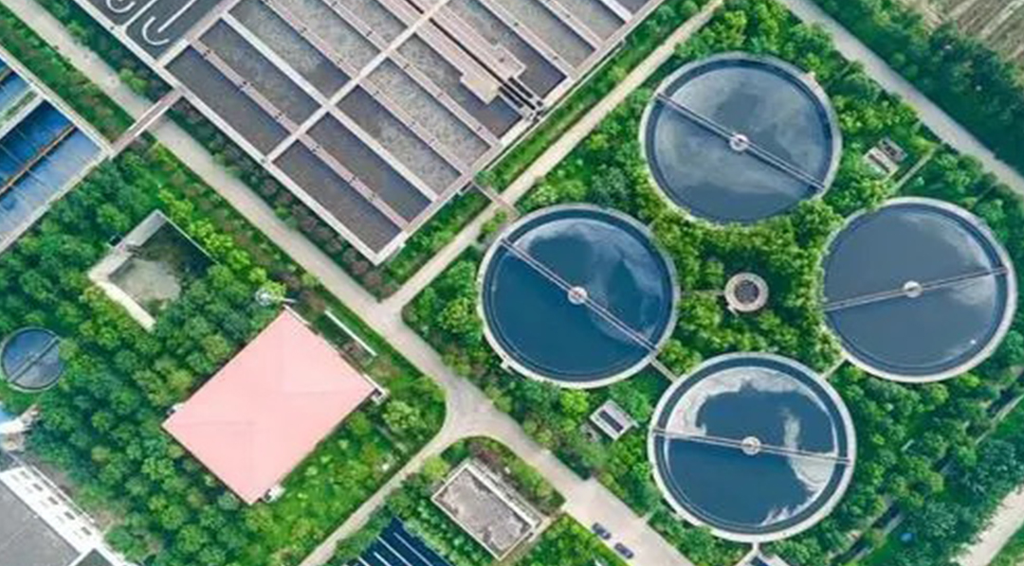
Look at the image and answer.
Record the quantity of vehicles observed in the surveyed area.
two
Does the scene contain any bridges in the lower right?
Yes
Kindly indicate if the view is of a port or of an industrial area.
industrial area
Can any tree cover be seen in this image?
Yes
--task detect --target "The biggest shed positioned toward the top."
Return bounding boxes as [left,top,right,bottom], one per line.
[862,145,901,183]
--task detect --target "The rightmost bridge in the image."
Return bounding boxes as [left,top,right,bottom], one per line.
[820,262,1013,310]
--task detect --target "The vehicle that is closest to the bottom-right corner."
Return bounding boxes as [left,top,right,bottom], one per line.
[612,540,634,561]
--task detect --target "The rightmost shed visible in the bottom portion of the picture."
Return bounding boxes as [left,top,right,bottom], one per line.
[589,399,639,445]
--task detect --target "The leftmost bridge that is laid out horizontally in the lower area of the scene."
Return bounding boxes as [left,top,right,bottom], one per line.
[648,422,854,466]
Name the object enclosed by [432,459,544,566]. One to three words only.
building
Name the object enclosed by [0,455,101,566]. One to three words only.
building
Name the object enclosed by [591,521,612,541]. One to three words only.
car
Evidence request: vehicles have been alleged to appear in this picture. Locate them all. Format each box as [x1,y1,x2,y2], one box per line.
[612,540,634,561]
[591,521,612,541]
